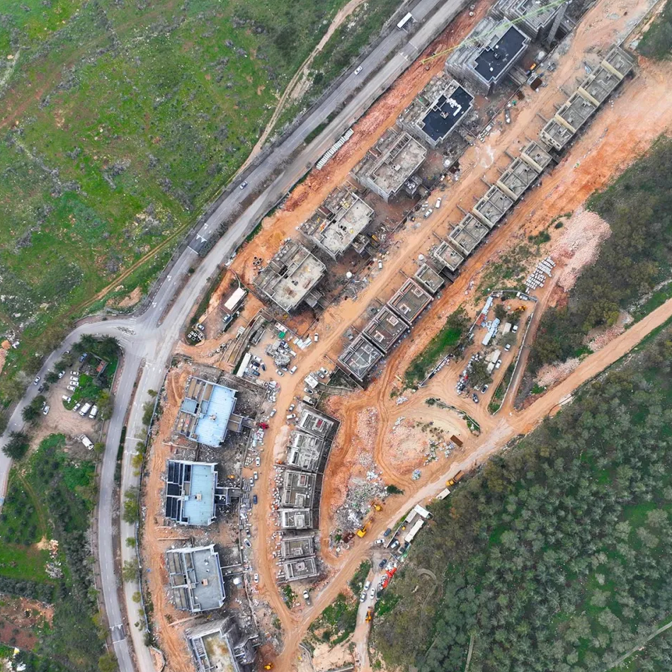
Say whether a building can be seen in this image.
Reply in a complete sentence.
Yes, there's a building down there.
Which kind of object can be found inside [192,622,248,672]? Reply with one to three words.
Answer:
building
